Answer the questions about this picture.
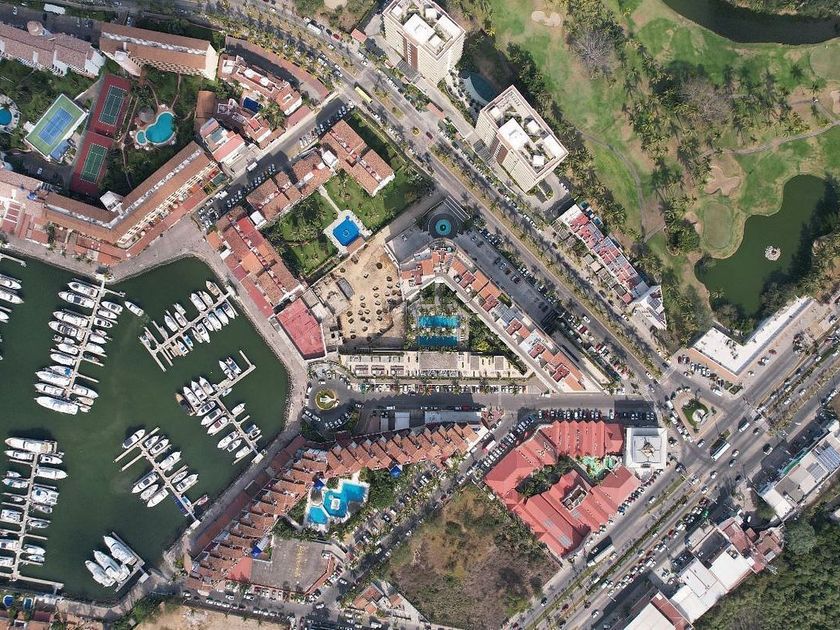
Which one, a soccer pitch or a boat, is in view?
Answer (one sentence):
Visible in the photo is a boat.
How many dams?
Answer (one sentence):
There are no dams in the image.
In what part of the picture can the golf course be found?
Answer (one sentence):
The golf course sits in the top right section of the image.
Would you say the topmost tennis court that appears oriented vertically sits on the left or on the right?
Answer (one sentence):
The topmost tennis court that appears oriented vertically appears in the left half of the scene.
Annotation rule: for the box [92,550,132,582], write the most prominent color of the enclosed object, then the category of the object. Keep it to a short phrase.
white boat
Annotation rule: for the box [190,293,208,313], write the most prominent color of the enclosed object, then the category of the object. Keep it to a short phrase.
white boat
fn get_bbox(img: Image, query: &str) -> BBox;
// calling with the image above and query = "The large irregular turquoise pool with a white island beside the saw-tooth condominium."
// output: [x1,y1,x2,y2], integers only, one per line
[305,479,371,531]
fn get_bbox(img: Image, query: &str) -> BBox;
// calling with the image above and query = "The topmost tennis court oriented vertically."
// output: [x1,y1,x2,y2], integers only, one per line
[88,75,128,139]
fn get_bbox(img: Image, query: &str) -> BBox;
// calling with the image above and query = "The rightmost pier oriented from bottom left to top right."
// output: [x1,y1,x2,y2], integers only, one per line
[139,284,239,373]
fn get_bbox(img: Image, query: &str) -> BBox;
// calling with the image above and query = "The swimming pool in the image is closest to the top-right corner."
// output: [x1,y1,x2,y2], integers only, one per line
[459,71,496,107]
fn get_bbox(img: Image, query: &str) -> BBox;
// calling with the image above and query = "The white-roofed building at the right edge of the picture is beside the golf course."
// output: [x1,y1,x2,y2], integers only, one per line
[686,296,816,379]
